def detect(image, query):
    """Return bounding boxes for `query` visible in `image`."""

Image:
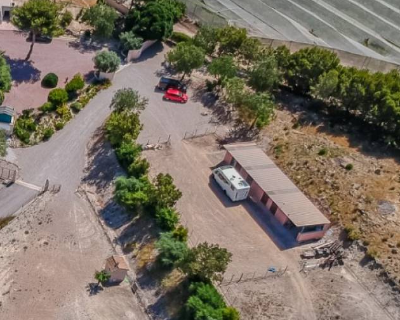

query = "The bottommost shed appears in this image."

[106,256,130,286]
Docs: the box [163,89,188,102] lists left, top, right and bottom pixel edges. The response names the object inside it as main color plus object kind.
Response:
red vehicle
